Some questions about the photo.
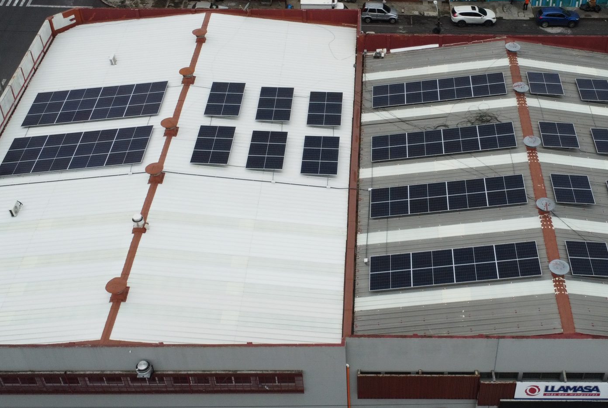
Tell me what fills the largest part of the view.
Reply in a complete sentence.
Most of the picture is covered by buildings.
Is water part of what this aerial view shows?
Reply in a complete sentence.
No, no water is visible.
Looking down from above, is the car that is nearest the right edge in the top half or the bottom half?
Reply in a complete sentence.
The top half of the photo is where the car that is nearest the right edge is.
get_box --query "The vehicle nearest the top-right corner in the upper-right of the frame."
[536,8,582,31]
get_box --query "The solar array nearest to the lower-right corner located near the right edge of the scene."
[565,239,608,277]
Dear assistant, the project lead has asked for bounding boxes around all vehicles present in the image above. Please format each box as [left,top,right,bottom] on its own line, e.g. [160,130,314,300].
[300,0,347,8]
[536,8,582,31]
[363,4,400,27]
[450,7,496,29]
